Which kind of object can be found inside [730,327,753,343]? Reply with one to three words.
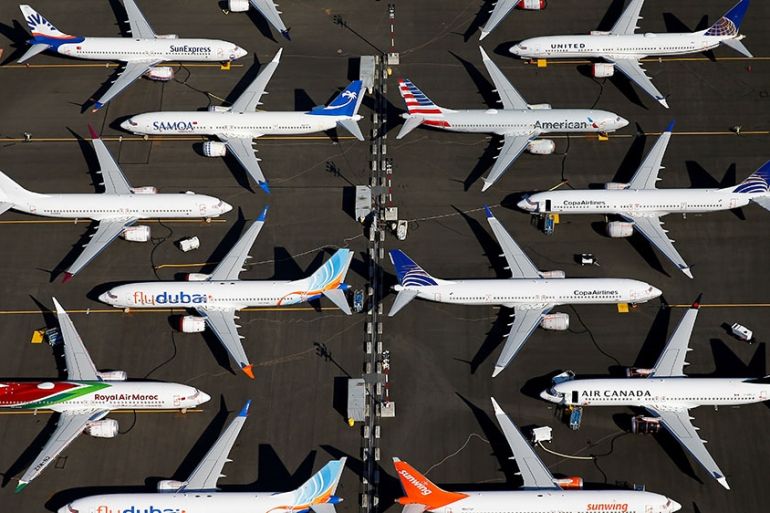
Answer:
vehicle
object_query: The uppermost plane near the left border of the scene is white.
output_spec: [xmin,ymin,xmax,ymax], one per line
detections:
[19,0,245,111]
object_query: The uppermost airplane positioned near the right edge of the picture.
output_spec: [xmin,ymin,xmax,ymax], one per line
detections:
[509,0,751,108]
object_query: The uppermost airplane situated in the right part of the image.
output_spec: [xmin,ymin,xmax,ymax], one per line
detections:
[479,0,547,39]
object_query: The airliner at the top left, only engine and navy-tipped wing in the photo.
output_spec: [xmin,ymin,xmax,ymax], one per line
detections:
[227,0,291,40]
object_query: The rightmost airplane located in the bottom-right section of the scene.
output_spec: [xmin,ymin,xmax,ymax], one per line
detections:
[540,296,770,487]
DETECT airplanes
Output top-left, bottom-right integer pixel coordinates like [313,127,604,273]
[99,207,355,378]
[393,398,682,513]
[120,51,366,193]
[0,301,210,491]
[398,49,629,190]
[227,0,291,40]
[19,0,245,111]
[540,296,770,487]
[389,206,663,378]
[479,0,547,39]
[0,126,232,281]
[517,123,770,278]
[59,400,347,513]
[509,0,751,108]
